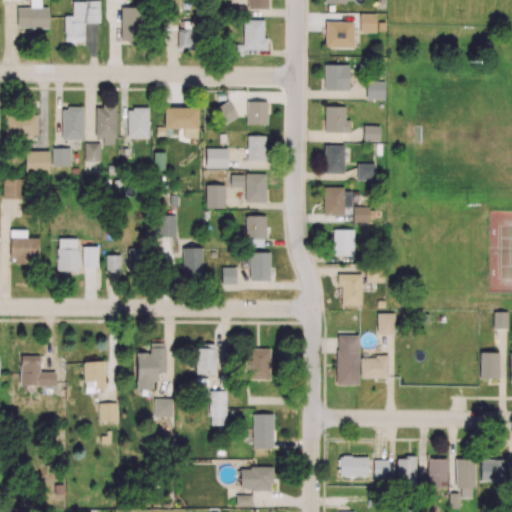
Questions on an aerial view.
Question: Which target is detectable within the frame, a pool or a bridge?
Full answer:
Visible in the photo is a pool.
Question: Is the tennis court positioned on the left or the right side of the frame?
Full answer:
It is on the right.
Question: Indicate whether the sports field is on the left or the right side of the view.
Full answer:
It is on the right.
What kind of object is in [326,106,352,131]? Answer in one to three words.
house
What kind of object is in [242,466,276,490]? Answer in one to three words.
house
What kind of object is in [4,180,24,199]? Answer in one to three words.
building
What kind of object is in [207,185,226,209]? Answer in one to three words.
building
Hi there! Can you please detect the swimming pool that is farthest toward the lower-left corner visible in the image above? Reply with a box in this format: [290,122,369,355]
[218,466,239,485]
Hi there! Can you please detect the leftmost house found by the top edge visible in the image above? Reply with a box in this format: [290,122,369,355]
[18,0,50,30]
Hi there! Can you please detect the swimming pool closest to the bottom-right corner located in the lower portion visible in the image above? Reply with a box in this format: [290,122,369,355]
[360,332,380,350]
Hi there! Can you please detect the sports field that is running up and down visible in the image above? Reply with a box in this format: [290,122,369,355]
[389,26,512,308]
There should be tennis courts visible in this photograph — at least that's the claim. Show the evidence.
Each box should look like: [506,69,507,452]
[490,212,512,292]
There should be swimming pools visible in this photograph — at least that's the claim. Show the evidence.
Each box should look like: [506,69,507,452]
[218,466,239,485]
[360,332,380,350]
